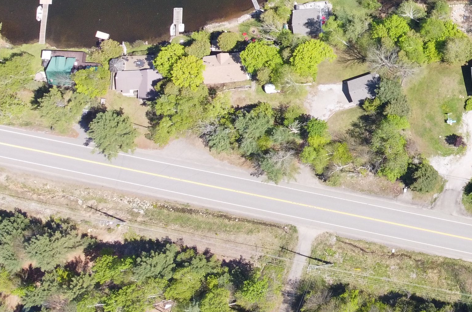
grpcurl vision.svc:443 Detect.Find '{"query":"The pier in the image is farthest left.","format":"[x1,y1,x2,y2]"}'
[39,0,52,45]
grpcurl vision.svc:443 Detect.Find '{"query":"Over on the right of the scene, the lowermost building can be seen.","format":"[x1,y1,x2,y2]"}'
[348,74,382,103]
